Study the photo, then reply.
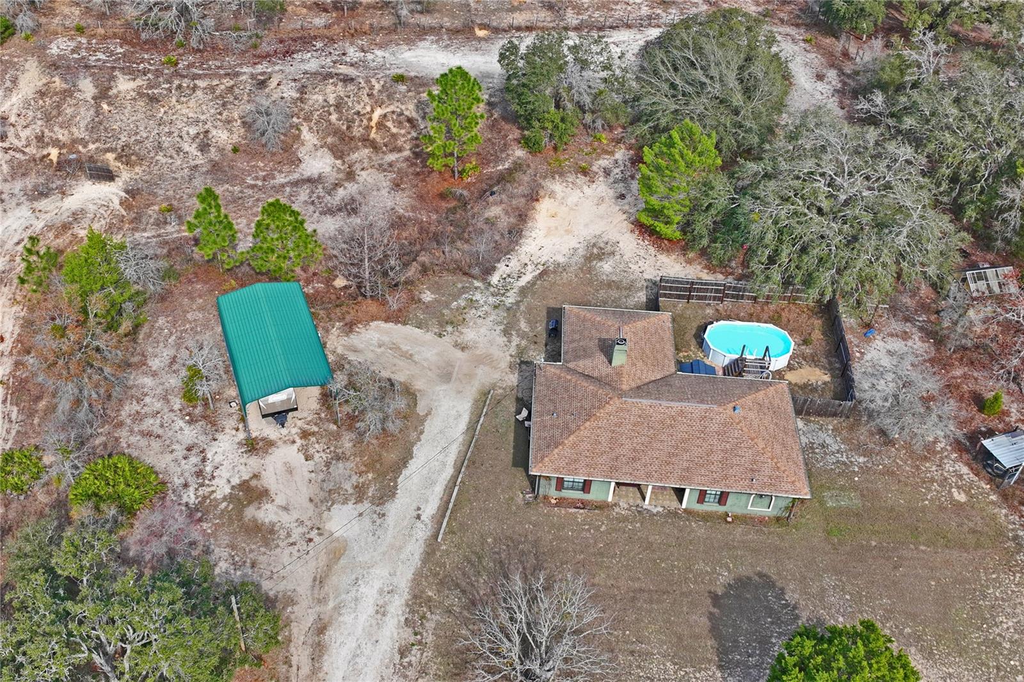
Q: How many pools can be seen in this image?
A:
1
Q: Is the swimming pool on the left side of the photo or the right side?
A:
right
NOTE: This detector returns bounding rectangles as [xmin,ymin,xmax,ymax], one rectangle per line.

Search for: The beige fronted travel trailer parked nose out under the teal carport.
[263,390,308,433]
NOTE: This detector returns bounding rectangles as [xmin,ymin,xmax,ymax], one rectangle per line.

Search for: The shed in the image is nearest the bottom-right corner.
[962,419,1024,492]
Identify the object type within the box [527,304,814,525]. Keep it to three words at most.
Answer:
house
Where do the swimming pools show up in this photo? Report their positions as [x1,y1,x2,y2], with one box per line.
[699,318,796,374]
